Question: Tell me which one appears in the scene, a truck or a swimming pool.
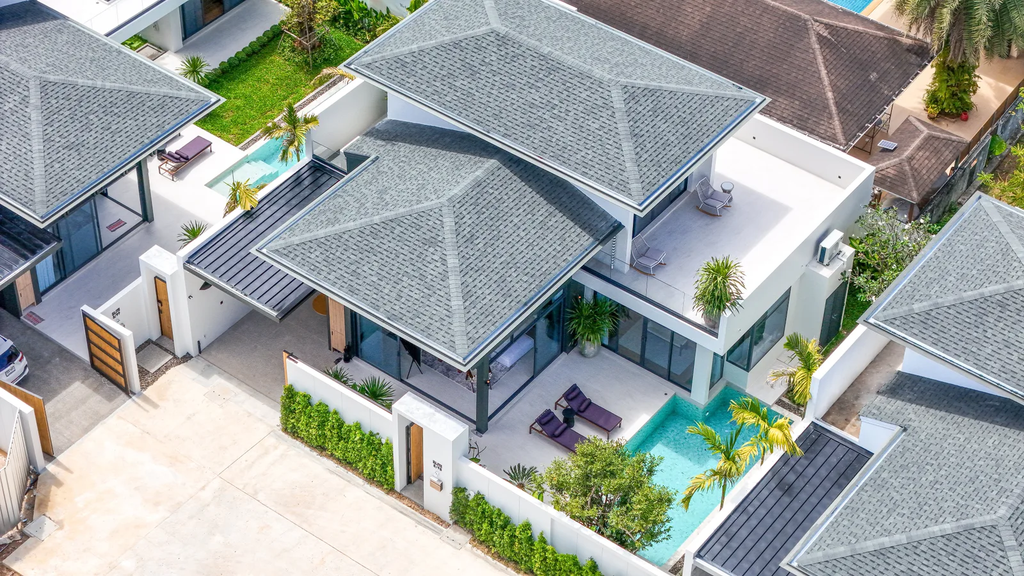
swimming pool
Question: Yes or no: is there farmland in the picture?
No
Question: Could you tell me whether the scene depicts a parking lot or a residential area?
residential area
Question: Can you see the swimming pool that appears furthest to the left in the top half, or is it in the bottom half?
top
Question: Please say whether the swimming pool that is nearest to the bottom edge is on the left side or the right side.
right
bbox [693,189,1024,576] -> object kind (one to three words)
house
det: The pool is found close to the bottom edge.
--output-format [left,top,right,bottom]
[600,389,794,567]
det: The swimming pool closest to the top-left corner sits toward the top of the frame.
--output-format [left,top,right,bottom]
[205,122,304,205]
